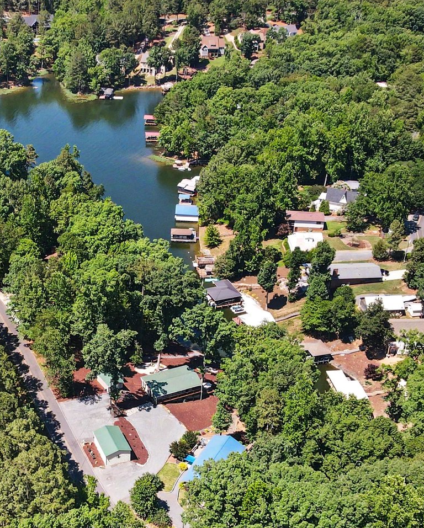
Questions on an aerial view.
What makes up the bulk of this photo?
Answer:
trees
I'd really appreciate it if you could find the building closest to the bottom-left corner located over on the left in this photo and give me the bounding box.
[93,426,131,467]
